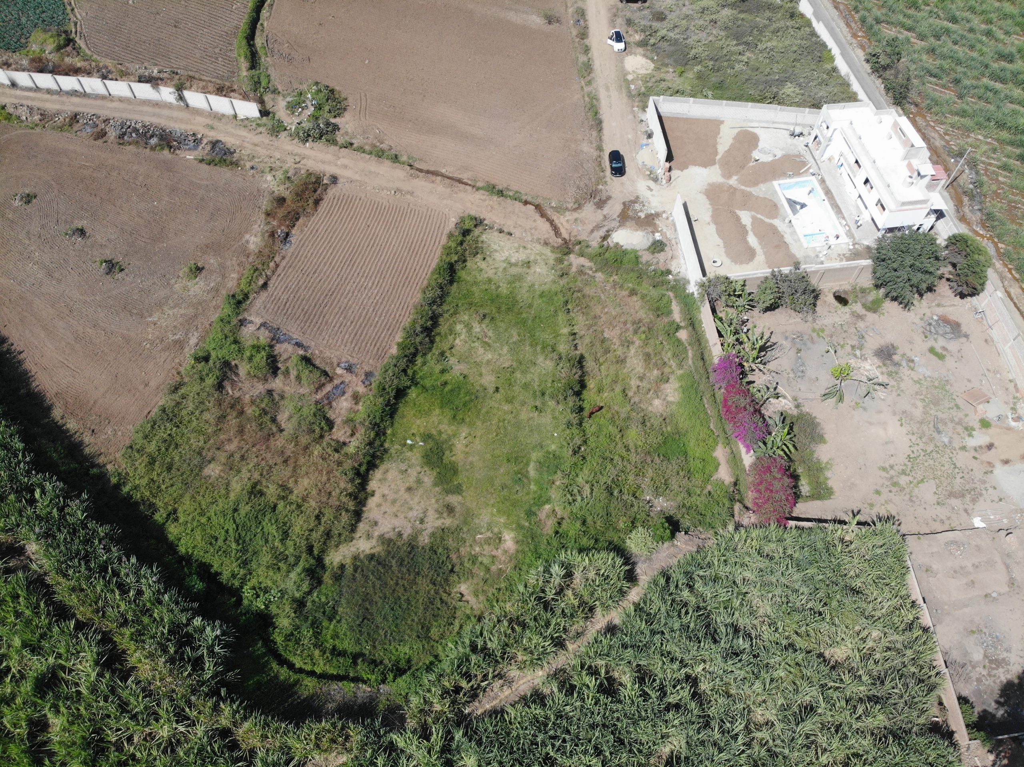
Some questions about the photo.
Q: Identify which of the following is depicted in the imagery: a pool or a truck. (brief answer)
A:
pool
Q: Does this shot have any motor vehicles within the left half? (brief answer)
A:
No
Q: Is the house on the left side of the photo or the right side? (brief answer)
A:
right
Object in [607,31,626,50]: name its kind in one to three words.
car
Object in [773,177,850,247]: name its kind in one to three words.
swimming pool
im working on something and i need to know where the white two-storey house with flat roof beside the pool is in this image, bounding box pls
[806,100,950,245]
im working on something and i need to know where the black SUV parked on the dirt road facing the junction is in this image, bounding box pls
[608,149,625,175]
